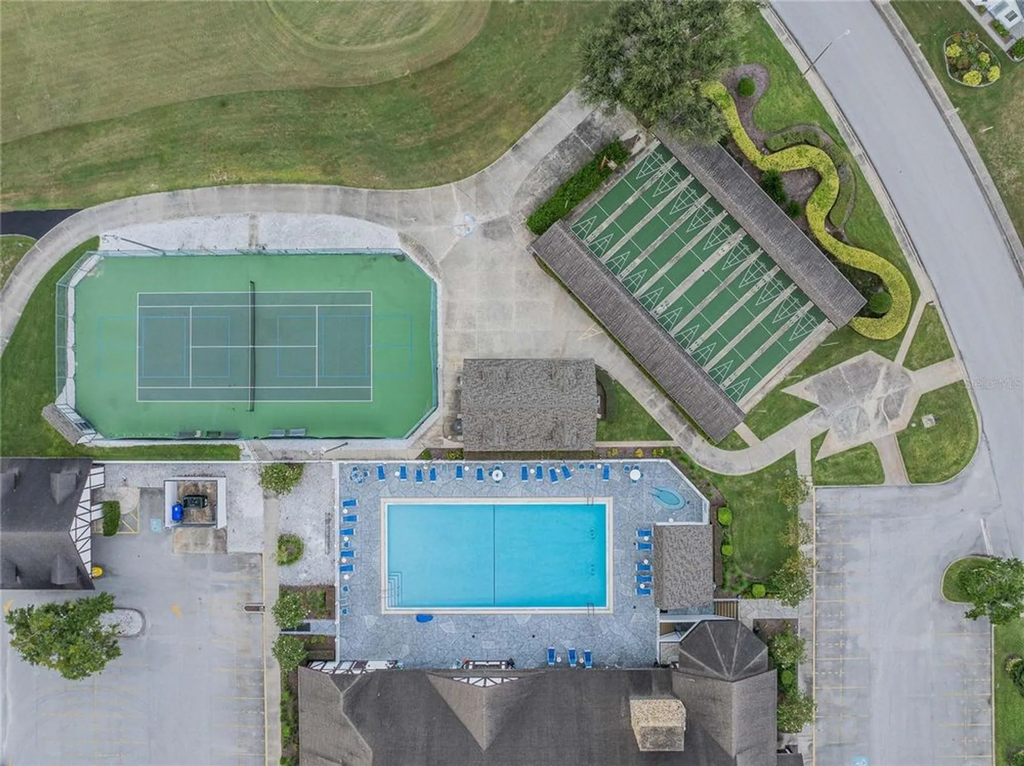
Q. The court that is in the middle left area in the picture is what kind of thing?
tennis court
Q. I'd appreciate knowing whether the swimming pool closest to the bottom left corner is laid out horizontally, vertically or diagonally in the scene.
horizontally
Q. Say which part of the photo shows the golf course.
top left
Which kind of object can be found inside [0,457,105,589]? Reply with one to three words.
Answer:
building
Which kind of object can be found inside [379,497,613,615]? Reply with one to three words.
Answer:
swimming pool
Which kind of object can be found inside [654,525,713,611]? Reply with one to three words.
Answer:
building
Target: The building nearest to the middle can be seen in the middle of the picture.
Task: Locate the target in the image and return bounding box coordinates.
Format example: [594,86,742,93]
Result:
[461,359,597,451]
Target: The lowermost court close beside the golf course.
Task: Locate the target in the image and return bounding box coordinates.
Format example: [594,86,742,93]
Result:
[74,255,433,439]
